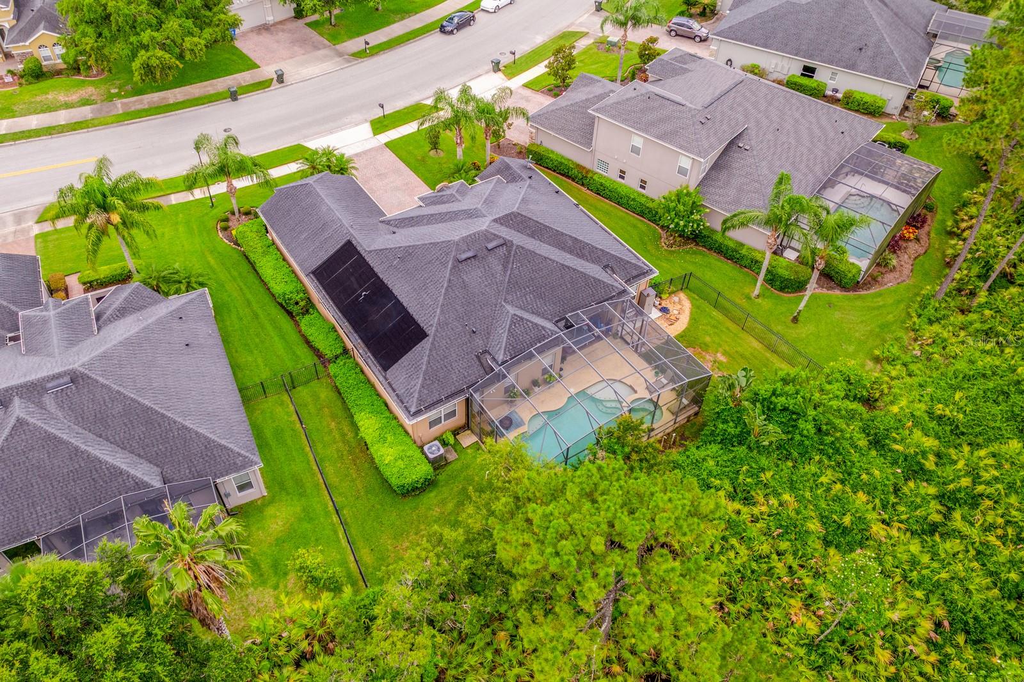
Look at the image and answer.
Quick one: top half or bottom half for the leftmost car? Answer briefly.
top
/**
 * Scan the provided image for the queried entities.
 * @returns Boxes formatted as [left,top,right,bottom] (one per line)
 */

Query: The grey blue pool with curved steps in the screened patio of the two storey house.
[830,188,905,253]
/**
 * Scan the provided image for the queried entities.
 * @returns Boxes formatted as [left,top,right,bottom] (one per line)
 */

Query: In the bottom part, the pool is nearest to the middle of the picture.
[517,370,671,485]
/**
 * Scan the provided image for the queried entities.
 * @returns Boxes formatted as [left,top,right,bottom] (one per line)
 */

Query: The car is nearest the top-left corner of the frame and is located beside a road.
[436,9,479,36]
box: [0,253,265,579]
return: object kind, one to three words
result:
house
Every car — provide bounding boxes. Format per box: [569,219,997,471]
[436,9,479,36]
[665,12,713,41]
[479,0,519,13]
